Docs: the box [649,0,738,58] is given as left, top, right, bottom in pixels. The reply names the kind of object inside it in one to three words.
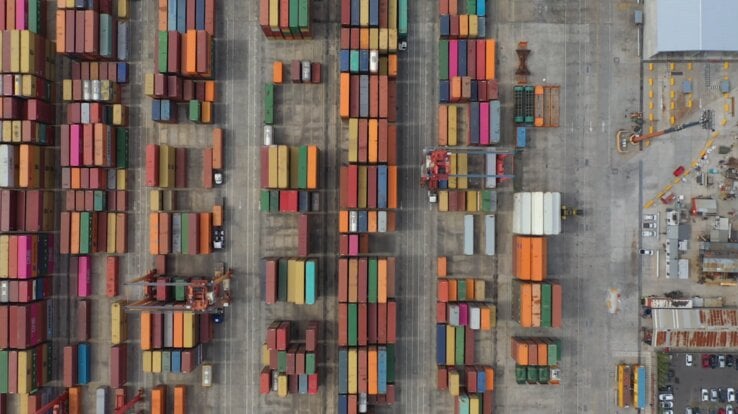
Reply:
building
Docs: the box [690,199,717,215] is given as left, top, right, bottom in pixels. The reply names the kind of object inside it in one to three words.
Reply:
shed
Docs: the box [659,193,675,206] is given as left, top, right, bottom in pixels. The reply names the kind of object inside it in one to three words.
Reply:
vehicle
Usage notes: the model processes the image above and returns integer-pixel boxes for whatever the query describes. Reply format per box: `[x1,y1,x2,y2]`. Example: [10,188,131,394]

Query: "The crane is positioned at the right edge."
[616,108,717,151]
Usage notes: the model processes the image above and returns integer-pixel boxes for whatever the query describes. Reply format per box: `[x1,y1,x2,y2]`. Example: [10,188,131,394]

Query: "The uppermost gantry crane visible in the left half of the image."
[120,265,236,312]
